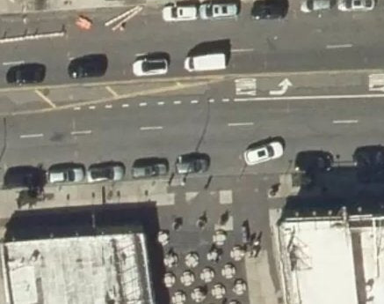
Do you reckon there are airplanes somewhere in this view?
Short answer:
No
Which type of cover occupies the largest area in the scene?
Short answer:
paved ground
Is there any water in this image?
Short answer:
No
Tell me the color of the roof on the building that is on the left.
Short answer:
white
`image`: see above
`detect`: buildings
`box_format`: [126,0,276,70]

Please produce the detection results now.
[1,230,154,304]
[281,221,384,304]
